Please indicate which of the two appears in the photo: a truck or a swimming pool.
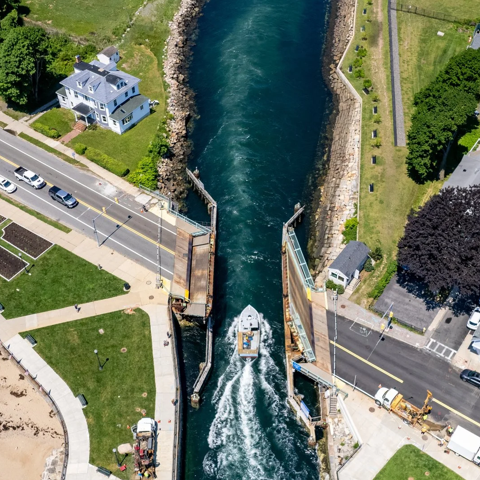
truck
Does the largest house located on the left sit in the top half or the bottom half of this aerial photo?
top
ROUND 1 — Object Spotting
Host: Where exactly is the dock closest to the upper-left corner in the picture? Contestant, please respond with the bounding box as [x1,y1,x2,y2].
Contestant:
[184,165,219,232]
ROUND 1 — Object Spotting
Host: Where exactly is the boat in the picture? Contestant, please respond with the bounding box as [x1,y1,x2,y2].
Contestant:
[237,303,260,358]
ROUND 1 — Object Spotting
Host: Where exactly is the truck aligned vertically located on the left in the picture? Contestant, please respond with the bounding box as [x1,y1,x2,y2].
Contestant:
[132,418,156,472]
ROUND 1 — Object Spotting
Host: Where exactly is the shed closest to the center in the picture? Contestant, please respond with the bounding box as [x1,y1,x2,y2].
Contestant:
[327,242,372,301]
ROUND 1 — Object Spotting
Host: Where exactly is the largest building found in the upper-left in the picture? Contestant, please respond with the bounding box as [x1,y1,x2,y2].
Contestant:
[56,58,149,134]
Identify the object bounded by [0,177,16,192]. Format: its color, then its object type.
white car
